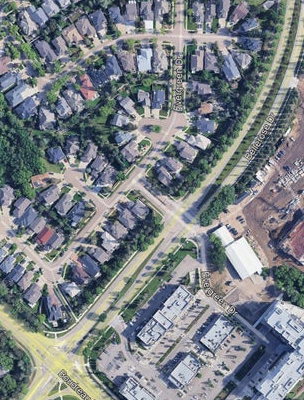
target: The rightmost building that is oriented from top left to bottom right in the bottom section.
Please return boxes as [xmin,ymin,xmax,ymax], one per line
[212,224,263,279]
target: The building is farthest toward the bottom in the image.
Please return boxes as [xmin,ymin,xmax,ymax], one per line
[119,378,156,400]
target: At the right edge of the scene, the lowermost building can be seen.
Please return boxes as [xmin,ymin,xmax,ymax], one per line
[253,295,304,400]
